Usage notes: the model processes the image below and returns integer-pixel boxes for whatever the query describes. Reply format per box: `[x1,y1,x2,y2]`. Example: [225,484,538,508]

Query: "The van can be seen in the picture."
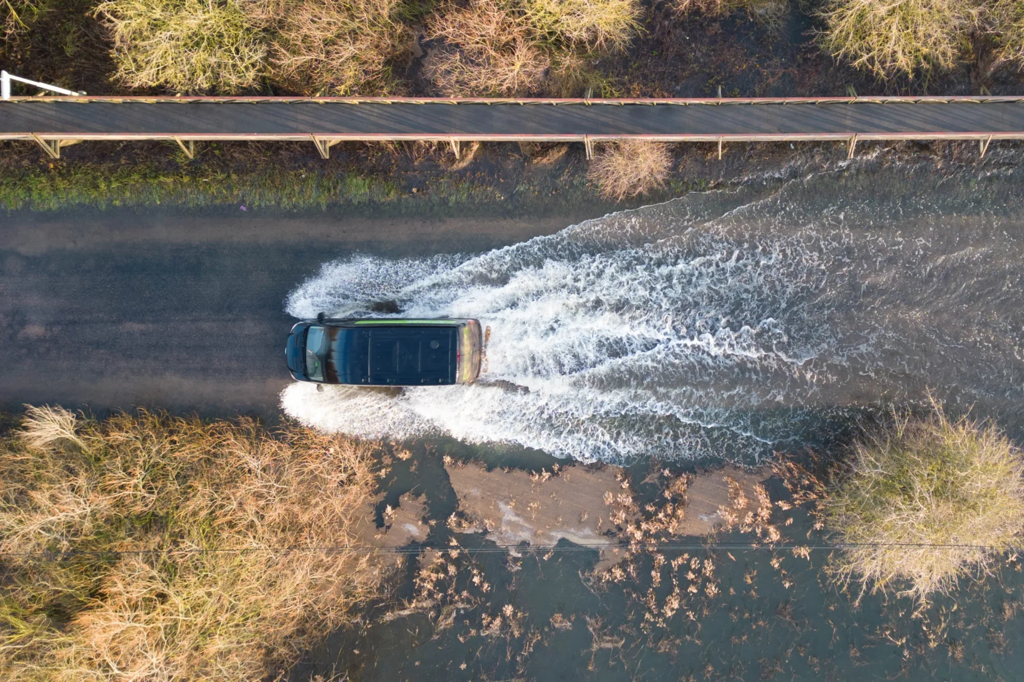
[280,309,494,396]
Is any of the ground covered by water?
Yes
